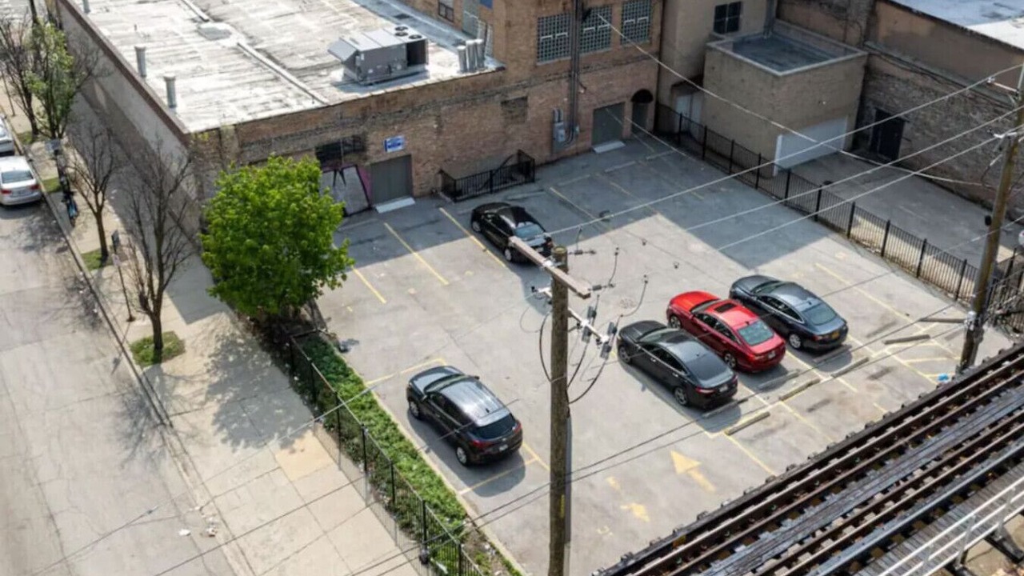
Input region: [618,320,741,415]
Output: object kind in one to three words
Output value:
car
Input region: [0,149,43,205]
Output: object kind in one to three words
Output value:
car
